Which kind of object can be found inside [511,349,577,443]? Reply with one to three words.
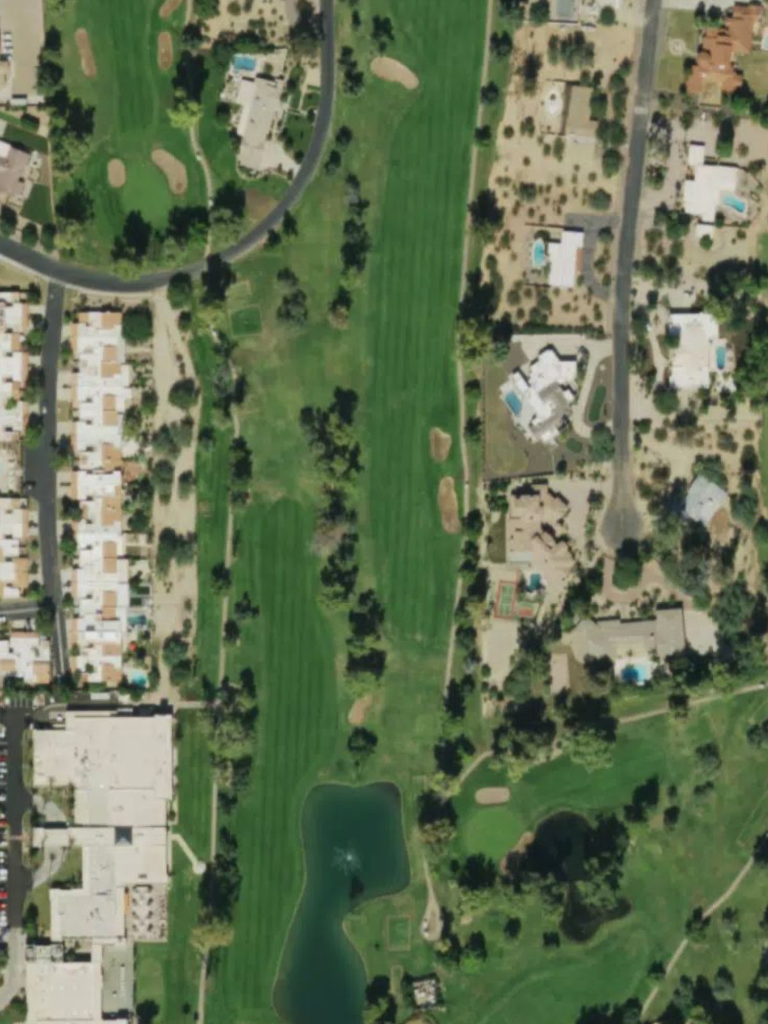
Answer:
house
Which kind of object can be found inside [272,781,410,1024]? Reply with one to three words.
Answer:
pond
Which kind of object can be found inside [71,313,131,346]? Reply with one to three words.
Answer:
house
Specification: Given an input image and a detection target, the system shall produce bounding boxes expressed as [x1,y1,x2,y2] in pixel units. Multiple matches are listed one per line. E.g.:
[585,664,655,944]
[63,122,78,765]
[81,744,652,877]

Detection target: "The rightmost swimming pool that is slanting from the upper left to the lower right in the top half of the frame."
[723,194,746,213]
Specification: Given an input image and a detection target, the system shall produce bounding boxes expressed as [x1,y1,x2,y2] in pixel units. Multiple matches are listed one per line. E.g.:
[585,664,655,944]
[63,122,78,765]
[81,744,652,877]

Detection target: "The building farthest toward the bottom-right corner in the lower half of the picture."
[414,981,437,1006]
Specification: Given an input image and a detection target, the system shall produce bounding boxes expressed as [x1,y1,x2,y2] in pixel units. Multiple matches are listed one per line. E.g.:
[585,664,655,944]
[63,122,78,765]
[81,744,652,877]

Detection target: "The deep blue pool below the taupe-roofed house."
[621,665,646,681]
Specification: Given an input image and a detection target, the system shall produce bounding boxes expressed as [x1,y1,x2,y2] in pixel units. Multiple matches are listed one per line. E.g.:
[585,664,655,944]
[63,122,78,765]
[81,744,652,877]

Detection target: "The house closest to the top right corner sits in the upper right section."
[686,5,762,93]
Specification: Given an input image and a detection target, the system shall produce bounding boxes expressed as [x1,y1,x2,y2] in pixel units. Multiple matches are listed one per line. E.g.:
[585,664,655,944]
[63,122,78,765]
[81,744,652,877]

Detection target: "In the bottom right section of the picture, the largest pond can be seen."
[525,810,632,943]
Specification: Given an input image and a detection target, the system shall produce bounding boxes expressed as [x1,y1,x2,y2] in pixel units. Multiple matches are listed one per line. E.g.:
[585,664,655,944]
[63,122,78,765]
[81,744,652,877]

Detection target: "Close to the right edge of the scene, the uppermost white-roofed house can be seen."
[684,144,738,221]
